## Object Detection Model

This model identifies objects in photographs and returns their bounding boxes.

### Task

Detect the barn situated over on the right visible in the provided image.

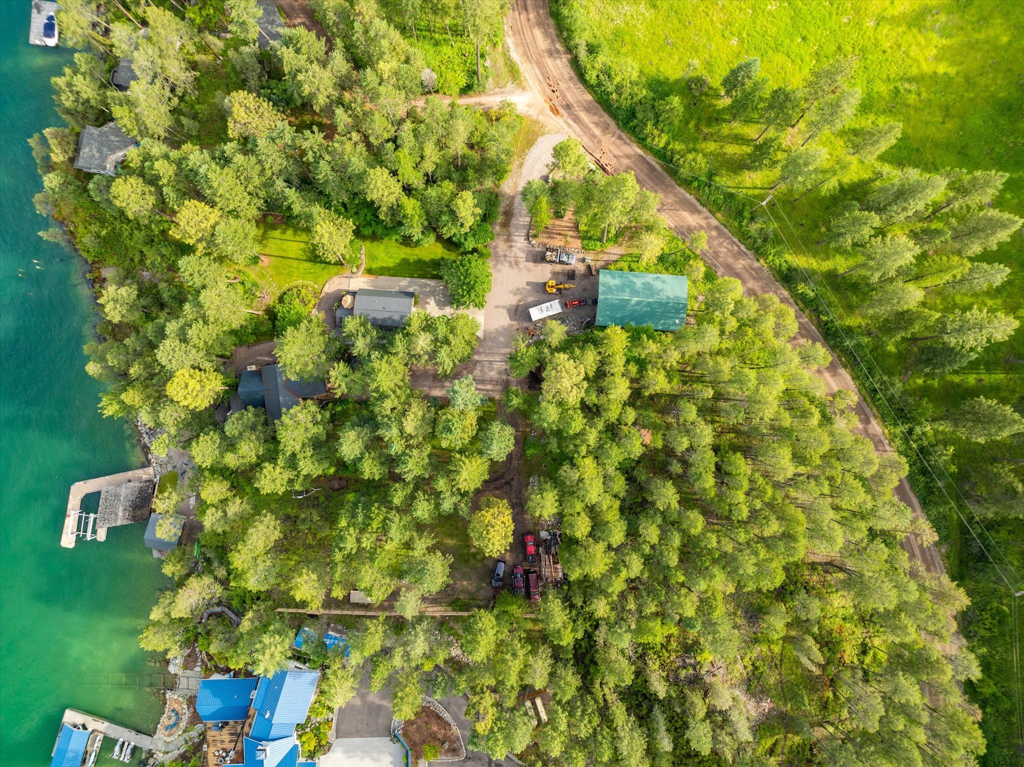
[595,270,688,332]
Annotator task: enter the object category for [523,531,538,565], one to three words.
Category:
vehicle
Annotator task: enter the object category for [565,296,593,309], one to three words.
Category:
vehicle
